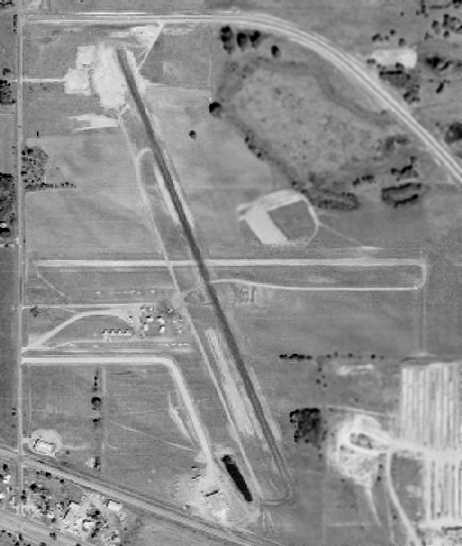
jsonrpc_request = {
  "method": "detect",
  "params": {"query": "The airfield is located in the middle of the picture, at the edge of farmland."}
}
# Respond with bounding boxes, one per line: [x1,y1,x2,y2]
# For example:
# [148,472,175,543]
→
[22,47,427,505]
